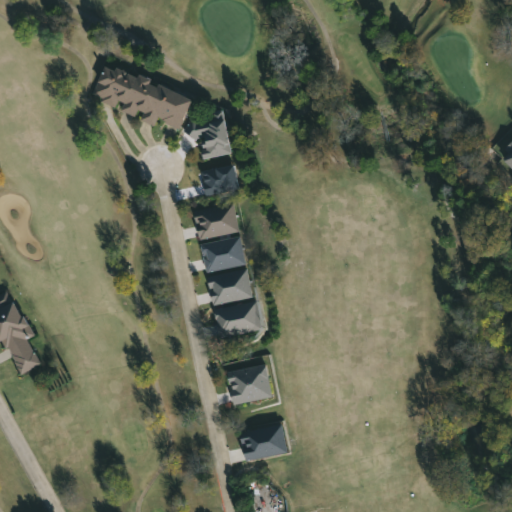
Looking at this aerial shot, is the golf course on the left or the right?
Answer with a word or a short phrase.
left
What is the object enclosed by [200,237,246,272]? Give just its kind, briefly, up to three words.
house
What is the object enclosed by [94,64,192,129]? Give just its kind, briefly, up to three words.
building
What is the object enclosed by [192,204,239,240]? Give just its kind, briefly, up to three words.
house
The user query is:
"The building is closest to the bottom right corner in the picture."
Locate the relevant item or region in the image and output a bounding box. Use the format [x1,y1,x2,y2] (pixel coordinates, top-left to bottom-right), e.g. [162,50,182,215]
[240,421,289,461]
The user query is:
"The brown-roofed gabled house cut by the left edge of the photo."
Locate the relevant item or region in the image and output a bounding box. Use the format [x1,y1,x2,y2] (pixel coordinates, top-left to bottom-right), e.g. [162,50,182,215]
[0,288,42,374]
